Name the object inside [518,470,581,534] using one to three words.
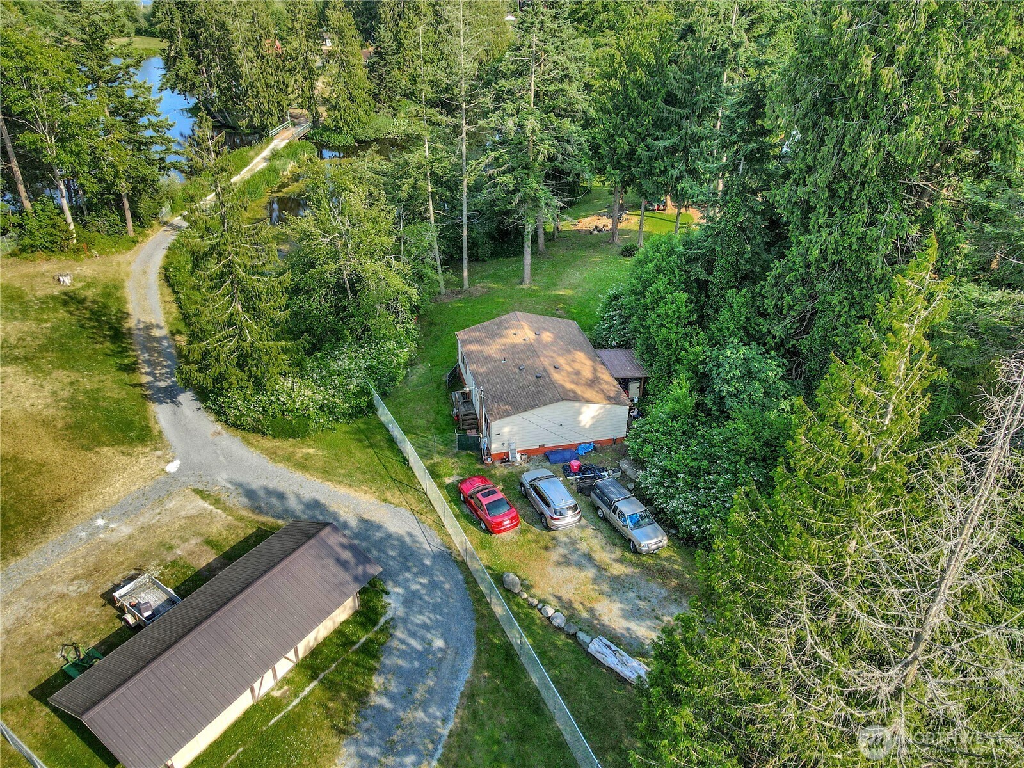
car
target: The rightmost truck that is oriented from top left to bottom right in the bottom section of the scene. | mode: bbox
[588,475,672,558]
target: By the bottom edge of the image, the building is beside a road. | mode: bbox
[47,519,382,768]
